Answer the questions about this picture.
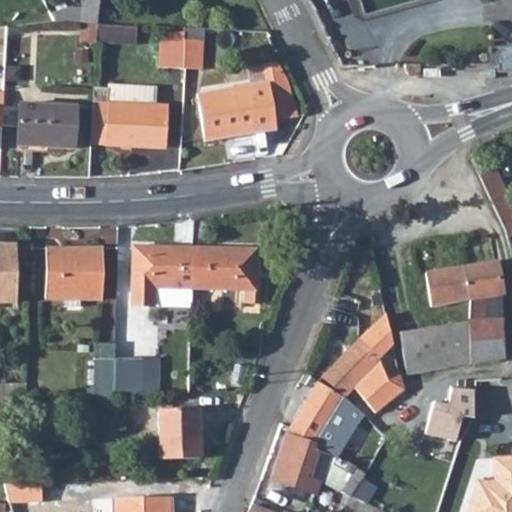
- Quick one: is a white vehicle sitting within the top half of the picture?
Yes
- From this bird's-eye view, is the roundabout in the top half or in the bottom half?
top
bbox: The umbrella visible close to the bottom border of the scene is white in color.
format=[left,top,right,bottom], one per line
[318,492,332,506]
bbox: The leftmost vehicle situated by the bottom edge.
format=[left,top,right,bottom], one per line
[264,485,288,502]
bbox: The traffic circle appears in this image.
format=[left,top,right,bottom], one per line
[309,92,436,230]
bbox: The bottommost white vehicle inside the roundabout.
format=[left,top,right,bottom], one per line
[384,169,411,186]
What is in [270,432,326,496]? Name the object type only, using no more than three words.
house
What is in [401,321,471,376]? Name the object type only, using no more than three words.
barn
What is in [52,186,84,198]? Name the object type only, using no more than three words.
vehicle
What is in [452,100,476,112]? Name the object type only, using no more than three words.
vehicle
